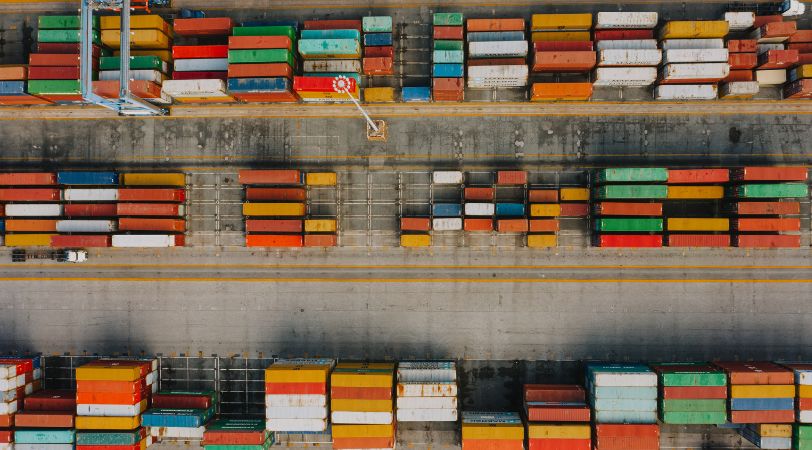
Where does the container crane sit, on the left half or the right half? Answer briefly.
left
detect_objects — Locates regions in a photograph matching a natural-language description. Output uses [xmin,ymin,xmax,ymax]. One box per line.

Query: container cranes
[81,0,168,113]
